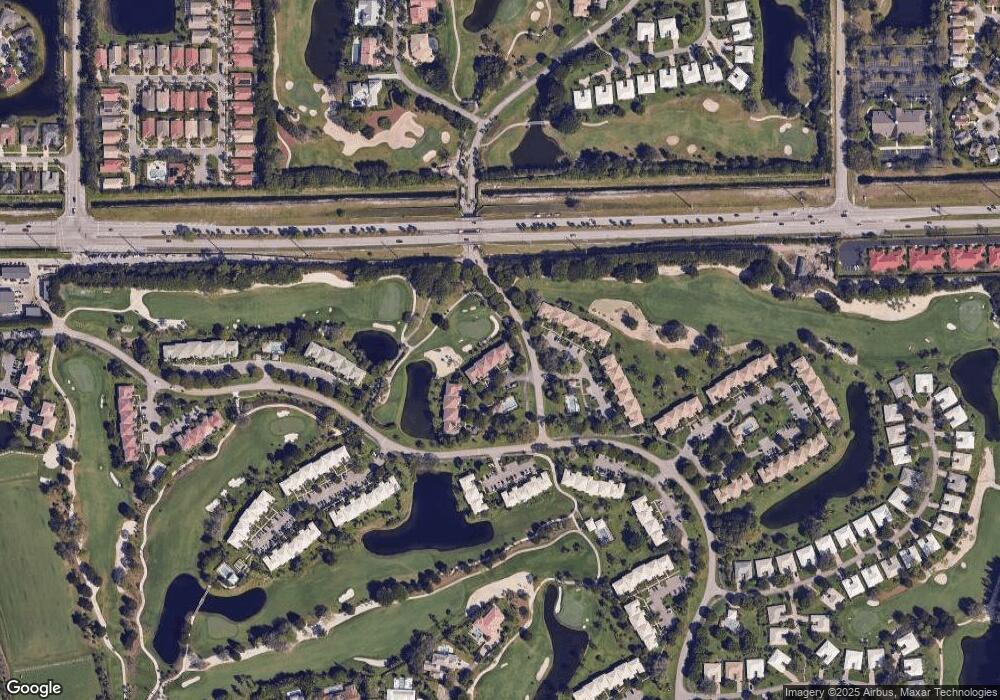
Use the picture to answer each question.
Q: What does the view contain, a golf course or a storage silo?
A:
golf course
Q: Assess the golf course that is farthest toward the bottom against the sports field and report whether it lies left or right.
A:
to the right of it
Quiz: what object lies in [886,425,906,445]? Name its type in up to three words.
house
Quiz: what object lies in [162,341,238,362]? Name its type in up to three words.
building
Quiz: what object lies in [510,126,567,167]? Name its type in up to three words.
pond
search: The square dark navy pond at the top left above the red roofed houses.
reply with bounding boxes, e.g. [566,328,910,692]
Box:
[108,0,176,34]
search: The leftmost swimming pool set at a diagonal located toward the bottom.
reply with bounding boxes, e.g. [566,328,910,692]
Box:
[149,451,181,477]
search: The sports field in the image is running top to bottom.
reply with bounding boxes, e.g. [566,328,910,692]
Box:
[0,454,101,700]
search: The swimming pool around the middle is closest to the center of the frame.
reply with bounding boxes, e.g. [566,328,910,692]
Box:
[494,395,518,417]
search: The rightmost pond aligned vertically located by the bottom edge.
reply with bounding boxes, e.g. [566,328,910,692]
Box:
[532,584,589,700]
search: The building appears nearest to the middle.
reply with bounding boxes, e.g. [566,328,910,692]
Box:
[465,342,512,386]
